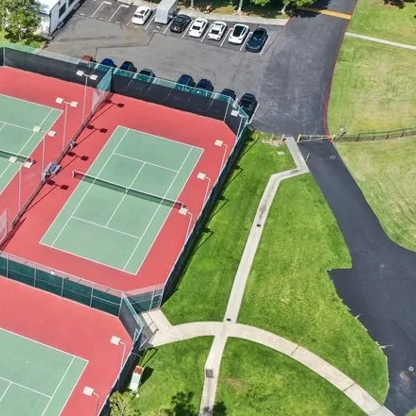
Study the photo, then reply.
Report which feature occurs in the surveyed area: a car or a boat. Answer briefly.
car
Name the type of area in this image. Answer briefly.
sports ground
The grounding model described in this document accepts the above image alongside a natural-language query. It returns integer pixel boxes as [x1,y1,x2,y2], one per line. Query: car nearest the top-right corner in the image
[248,28,269,49]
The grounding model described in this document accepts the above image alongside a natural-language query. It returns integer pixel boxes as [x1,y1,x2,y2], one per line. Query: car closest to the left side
[71,58,92,71]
